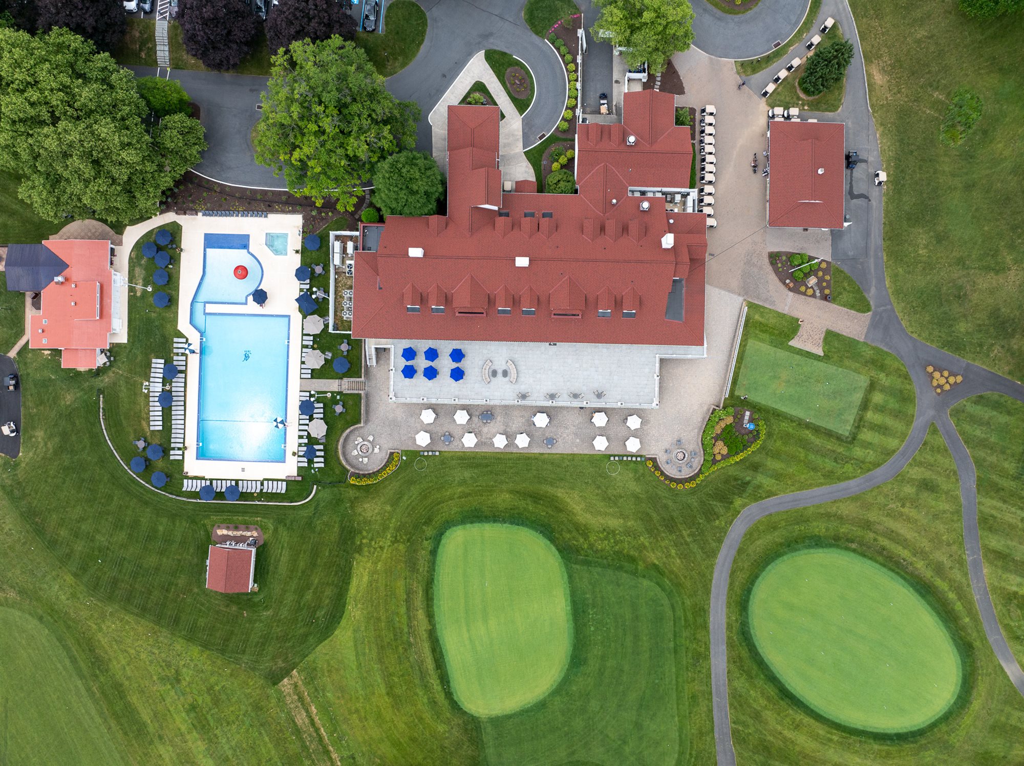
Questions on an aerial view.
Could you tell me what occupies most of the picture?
grass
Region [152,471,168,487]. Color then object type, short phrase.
blue umbrella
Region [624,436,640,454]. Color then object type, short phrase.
white umbrella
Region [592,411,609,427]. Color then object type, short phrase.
white umbrella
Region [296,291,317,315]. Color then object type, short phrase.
blue umbrella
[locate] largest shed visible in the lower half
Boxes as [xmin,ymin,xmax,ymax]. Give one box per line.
[203,544,258,593]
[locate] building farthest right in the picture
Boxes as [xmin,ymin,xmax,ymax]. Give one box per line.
[765,120,851,231]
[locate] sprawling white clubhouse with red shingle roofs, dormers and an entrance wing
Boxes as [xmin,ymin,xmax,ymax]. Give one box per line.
[351,89,708,347]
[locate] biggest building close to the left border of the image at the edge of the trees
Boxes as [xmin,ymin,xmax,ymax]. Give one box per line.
[5,239,125,369]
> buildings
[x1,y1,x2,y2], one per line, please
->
[5,239,125,369]
[203,544,258,593]
[765,120,851,231]
[351,89,708,347]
